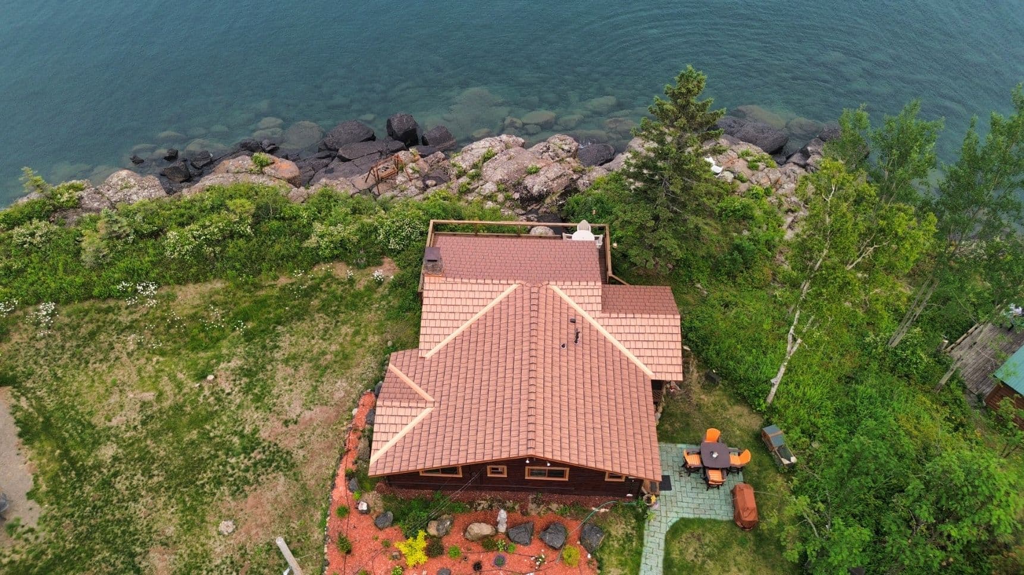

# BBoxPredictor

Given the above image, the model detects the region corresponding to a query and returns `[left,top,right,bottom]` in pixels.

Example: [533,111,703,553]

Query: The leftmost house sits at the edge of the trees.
[367,236,682,501]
